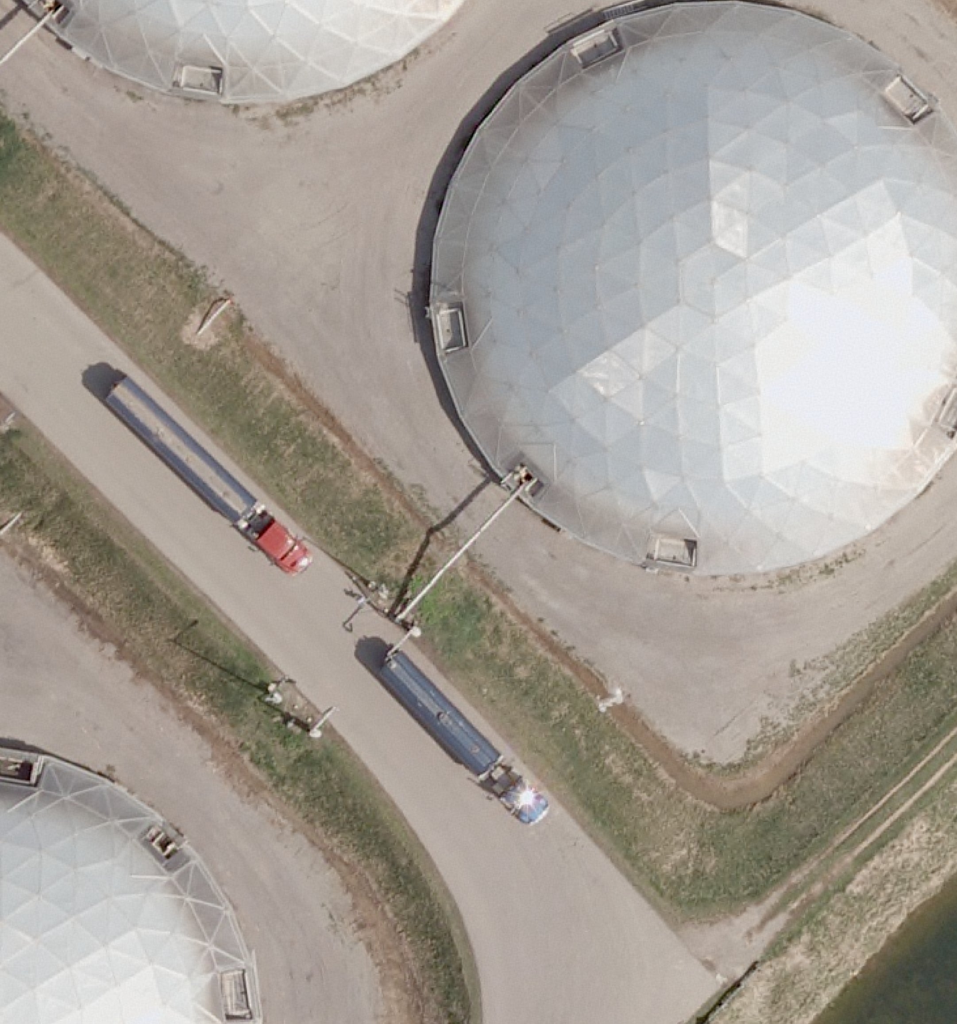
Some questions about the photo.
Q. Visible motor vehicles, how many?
2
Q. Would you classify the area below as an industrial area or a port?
industrial area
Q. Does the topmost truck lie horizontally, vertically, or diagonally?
diagonally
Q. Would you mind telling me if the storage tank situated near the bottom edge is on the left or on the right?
left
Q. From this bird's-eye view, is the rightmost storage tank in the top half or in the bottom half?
top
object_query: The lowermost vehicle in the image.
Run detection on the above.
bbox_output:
[381,650,548,825]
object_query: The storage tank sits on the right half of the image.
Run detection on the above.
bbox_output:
[426,0,957,575]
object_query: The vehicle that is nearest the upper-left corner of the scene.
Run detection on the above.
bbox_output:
[108,378,312,577]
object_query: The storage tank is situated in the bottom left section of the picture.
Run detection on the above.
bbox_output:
[0,745,266,1024]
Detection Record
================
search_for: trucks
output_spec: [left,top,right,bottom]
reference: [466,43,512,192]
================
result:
[108,378,312,577]
[381,650,548,825]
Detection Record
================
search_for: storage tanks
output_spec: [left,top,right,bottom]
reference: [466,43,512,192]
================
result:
[0,745,266,1024]
[426,0,957,575]
[35,0,472,102]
